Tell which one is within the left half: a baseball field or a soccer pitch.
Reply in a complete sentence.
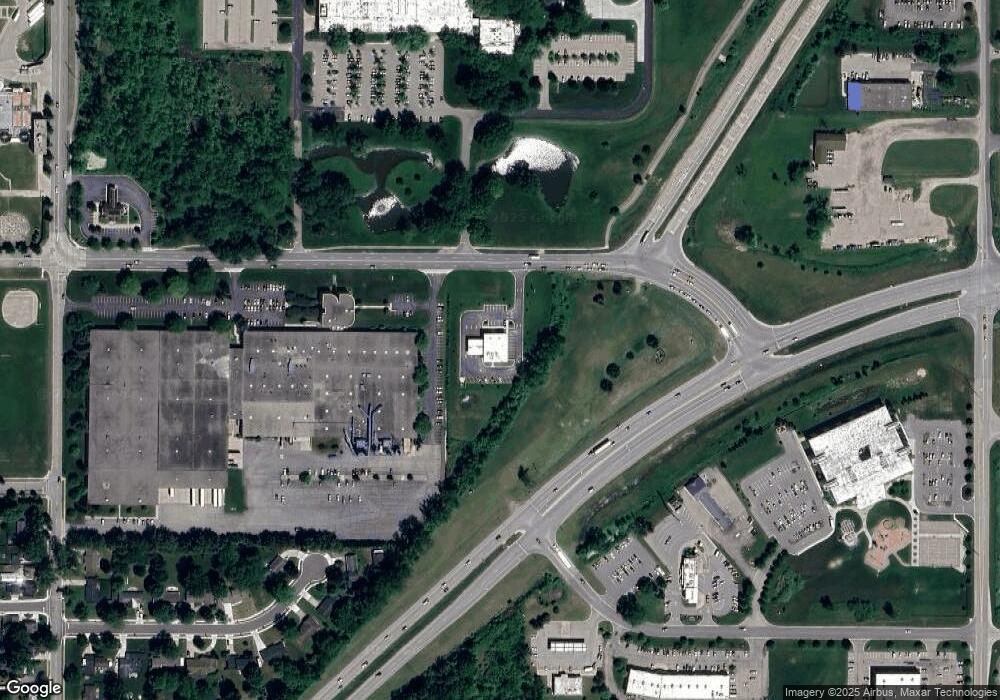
Visible within the left half is a baseball field.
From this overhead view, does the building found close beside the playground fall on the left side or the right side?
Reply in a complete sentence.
It is on the right.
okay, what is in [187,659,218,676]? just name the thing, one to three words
house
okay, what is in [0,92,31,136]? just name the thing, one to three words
building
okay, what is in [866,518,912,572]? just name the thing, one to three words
playground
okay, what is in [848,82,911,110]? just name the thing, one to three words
building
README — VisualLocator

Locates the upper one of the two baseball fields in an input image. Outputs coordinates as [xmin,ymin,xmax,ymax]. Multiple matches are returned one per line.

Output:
[0,213,29,241]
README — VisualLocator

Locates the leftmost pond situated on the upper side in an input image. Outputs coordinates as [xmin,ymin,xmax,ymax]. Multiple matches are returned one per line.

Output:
[308,145,434,233]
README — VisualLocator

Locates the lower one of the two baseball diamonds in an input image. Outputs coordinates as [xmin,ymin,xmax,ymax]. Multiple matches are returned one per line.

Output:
[2,289,40,328]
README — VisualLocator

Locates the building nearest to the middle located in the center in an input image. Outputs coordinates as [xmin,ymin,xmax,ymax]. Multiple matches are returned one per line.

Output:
[469,333,508,362]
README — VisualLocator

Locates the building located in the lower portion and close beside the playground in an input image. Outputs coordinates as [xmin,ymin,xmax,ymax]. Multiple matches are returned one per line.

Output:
[810,405,914,510]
